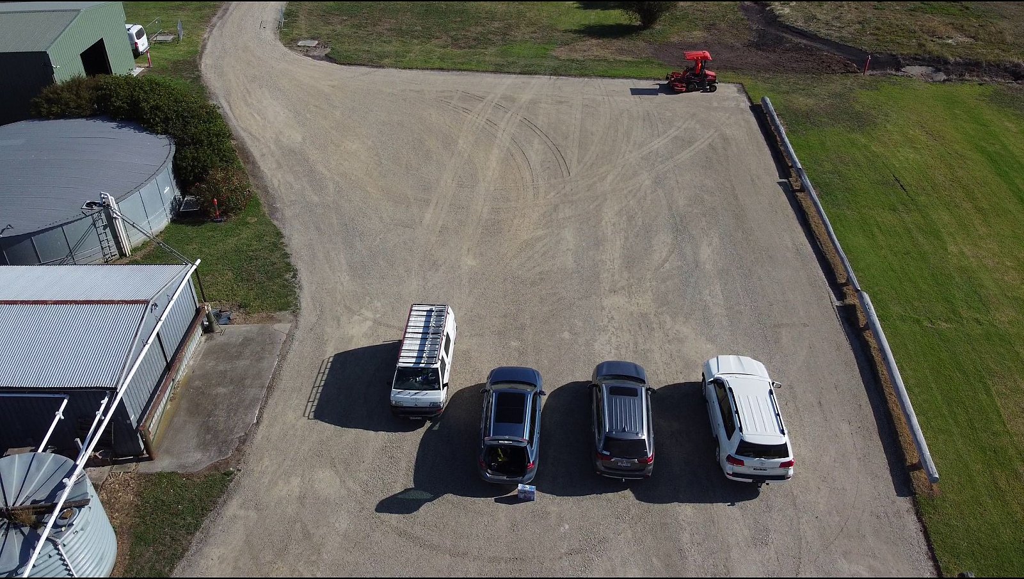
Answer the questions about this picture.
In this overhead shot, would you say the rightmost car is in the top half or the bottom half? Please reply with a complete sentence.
You can find the rightmost car in the bottom half.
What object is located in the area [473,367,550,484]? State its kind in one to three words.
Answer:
car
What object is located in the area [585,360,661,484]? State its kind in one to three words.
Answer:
car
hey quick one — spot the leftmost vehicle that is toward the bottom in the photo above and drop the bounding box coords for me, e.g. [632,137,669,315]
[384,298,459,417]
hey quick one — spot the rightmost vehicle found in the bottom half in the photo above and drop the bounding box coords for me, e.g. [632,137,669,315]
[699,357,796,490]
